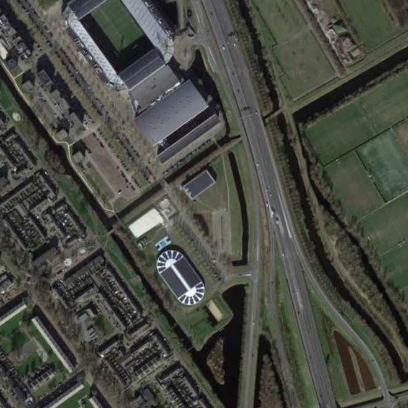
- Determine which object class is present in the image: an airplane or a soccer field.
soccer field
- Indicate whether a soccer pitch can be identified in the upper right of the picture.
Yes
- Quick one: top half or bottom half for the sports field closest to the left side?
top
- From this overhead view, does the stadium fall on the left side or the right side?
left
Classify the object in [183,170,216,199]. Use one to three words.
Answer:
building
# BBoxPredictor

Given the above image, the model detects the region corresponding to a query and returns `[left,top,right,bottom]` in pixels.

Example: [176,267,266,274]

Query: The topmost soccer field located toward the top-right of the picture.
[358,71,408,131]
